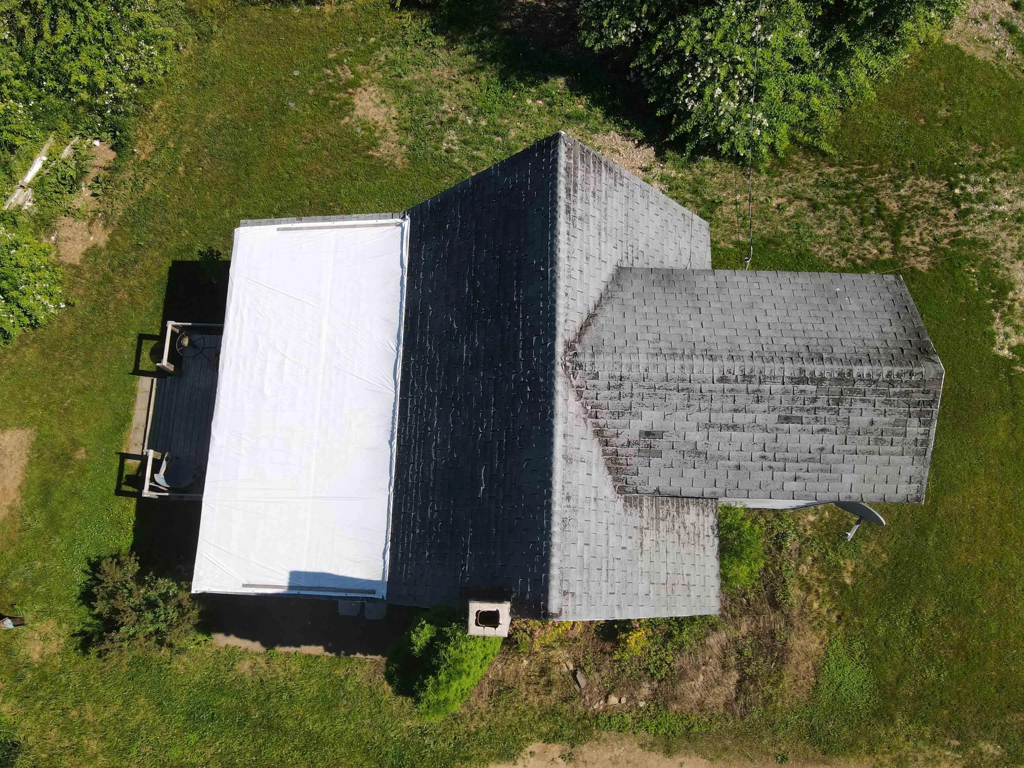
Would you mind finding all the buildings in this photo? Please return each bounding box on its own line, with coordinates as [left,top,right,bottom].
[201,131,946,636]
